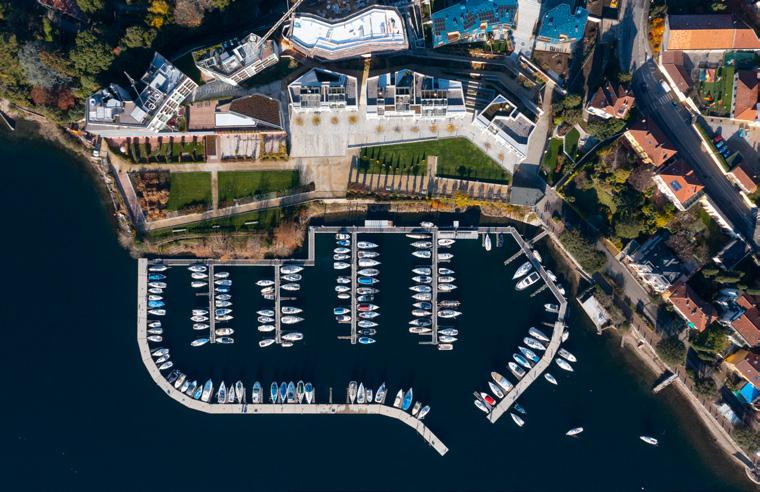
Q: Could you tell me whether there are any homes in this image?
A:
Yes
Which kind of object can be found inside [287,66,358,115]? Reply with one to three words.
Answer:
building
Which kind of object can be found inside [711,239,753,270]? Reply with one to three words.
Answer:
house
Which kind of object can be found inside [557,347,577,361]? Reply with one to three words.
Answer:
boat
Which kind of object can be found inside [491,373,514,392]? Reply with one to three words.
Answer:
boat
